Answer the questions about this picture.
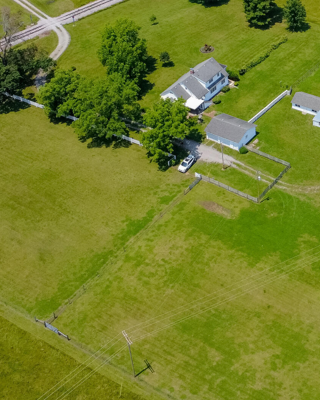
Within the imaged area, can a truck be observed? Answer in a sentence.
No, the frame has no truck in it.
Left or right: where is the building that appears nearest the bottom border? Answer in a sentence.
It is on the right.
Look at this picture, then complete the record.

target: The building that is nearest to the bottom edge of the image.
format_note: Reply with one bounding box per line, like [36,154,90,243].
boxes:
[203,114,259,152]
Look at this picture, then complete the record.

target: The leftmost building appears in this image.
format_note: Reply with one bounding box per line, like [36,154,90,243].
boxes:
[157,57,229,118]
